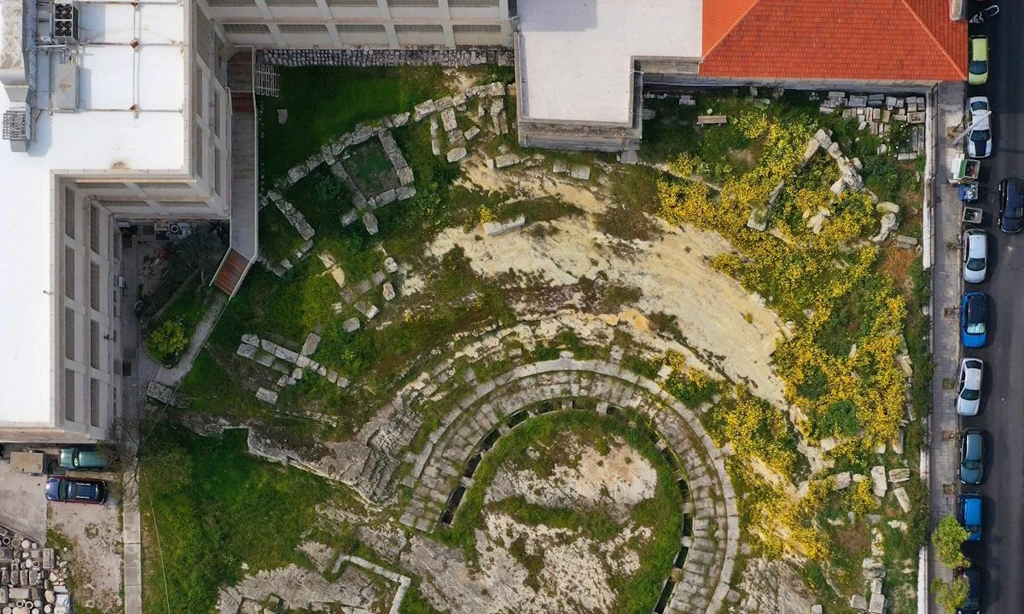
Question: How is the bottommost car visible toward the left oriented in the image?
from left to right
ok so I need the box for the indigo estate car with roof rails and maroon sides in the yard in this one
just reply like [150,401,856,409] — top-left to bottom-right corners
[47,475,109,504]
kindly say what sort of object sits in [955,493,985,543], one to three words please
car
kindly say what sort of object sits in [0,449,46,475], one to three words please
trailer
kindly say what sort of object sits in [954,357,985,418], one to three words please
car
